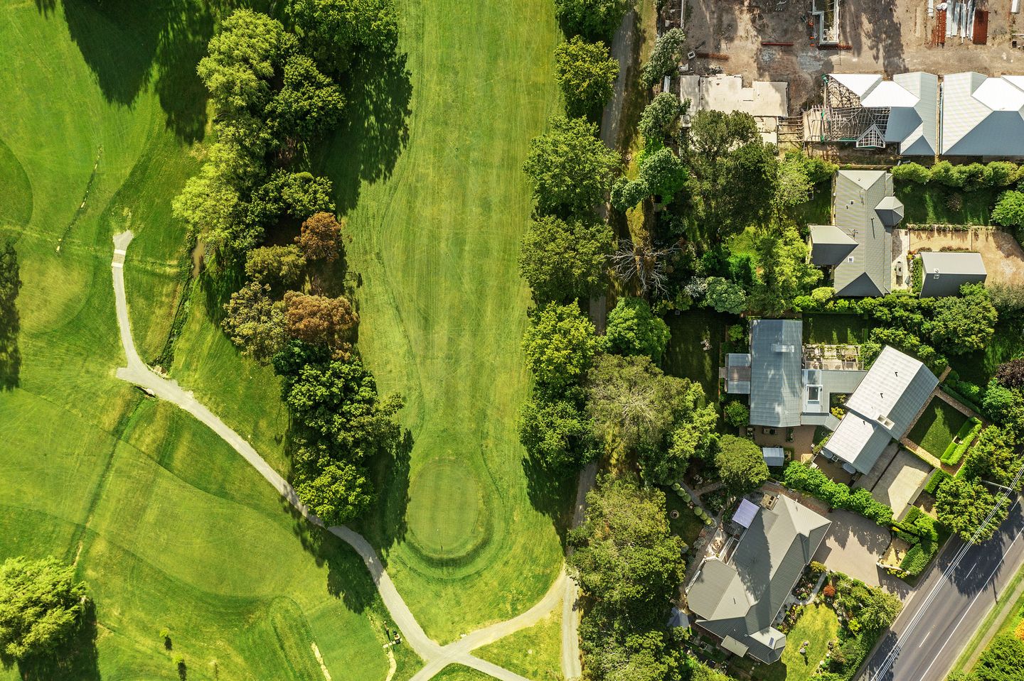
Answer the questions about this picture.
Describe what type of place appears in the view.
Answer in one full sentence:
This looks like a golf course.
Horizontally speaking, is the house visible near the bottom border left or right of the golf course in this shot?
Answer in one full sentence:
It is on the right side of the golf course that the house visible near the bottom border is positioned.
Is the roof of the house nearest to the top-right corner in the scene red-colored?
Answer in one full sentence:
No, the color of the roof of the house nearest to the top-right corner is white.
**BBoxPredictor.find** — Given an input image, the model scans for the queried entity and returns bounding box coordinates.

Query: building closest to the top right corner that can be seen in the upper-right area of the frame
[937,71,1024,156]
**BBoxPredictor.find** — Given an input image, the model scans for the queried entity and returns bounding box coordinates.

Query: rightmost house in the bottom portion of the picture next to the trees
[824,345,940,475]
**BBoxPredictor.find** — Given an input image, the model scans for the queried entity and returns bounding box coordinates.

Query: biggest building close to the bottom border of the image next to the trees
[685,494,832,665]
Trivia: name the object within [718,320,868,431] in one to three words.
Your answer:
house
